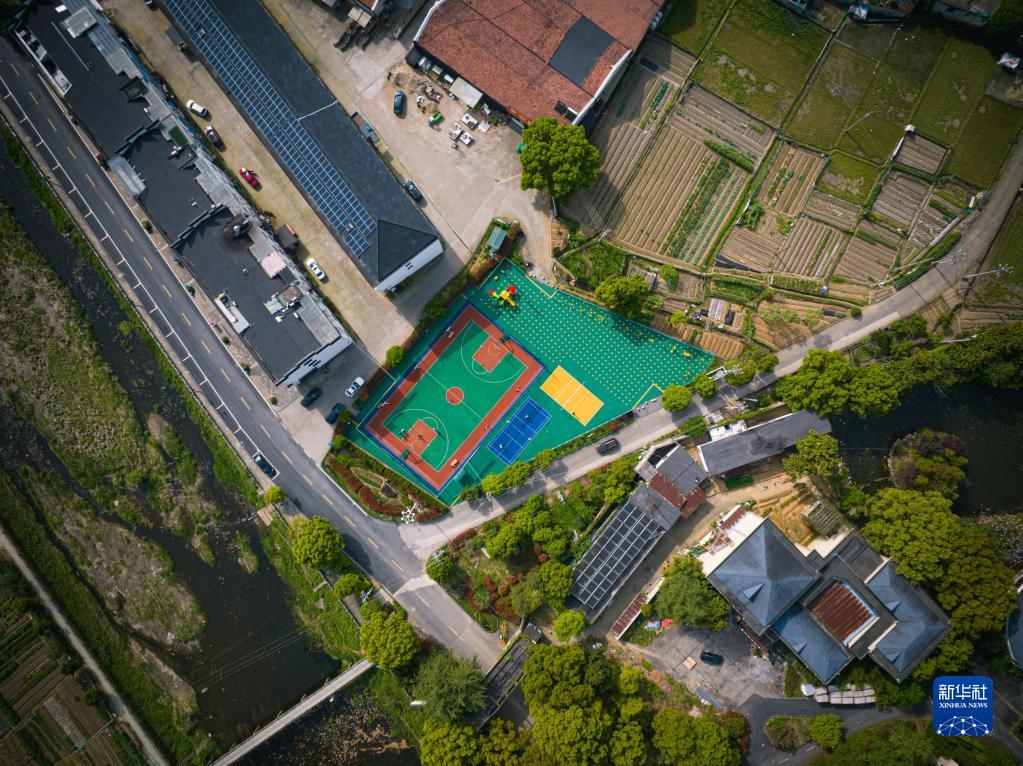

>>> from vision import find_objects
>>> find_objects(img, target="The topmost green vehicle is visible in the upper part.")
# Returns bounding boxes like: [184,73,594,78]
[429,109,444,124]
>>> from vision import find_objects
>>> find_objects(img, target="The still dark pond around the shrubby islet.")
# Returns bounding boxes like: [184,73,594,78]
[833,383,1023,514]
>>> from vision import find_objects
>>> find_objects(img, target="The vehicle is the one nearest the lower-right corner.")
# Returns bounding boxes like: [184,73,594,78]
[700,651,724,664]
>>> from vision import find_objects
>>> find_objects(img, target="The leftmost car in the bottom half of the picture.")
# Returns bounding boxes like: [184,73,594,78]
[254,453,275,475]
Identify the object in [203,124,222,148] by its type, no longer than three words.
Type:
car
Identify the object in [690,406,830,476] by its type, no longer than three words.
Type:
shed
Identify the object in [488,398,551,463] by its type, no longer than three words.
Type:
sports court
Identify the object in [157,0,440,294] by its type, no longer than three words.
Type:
building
